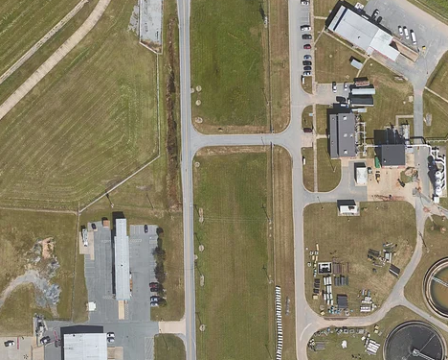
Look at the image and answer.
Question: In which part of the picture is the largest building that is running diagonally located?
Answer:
top right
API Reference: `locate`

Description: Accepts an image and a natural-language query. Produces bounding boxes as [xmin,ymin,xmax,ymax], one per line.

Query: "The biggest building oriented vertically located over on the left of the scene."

[113,218,131,300]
